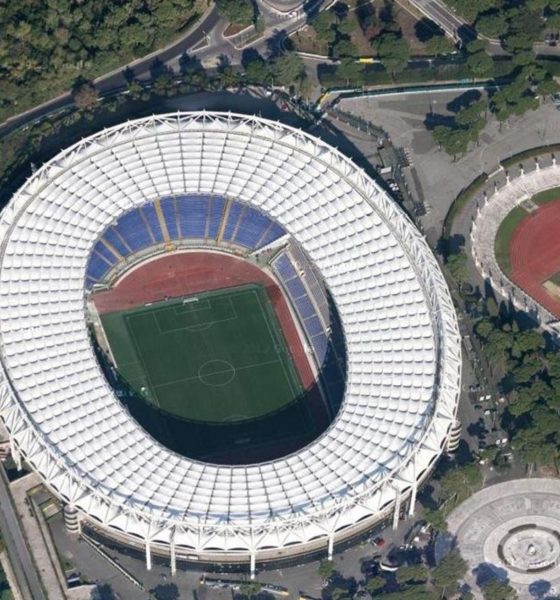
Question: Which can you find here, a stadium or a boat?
stadium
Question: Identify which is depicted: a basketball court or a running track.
running track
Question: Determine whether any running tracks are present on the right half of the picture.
Yes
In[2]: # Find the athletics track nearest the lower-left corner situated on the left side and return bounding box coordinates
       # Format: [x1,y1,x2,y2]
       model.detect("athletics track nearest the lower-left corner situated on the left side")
[73,250,332,492]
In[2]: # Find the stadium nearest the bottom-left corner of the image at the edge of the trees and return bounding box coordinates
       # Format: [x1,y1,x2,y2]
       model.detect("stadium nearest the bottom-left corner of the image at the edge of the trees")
[0,106,465,580]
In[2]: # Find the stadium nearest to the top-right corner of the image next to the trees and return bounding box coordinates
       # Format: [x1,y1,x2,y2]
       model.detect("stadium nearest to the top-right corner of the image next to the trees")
[470,162,560,342]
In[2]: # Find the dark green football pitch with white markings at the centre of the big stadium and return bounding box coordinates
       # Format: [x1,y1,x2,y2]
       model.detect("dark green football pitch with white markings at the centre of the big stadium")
[102,282,324,474]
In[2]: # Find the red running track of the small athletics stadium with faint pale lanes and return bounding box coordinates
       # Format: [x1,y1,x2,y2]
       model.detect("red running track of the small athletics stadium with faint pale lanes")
[508,200,560,317]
